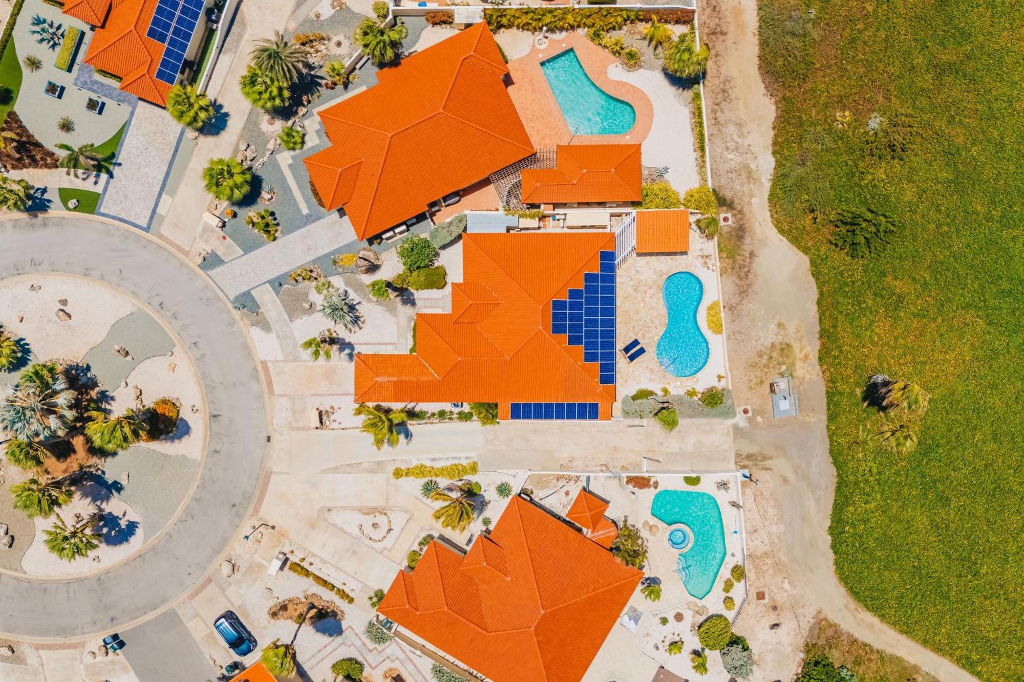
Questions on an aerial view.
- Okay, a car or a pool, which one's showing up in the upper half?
pool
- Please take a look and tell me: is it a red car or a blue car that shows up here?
blue car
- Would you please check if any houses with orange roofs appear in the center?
Yes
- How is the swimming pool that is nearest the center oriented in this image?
vertically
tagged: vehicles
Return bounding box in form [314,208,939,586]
[212,613,253,663]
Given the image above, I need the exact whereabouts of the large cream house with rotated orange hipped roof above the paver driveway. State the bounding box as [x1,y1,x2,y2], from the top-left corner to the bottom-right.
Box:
[302,19,536,241]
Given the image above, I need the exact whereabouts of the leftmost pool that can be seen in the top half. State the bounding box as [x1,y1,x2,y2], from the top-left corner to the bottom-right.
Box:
[536,43,639,140]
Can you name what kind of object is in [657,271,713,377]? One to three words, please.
swimming pool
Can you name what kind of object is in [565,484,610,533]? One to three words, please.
gazebo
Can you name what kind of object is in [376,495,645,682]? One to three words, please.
house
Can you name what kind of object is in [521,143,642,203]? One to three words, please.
building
